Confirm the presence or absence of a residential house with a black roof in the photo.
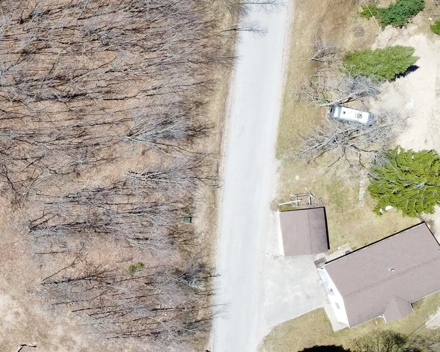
No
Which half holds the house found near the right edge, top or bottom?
bottom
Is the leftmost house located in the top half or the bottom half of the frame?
bottom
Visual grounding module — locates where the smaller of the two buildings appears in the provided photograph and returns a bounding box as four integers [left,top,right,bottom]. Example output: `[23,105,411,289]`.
[274,207,328,257]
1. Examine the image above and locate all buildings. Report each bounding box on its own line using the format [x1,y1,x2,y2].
[318,223,440,329]
[274,207,328,257]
